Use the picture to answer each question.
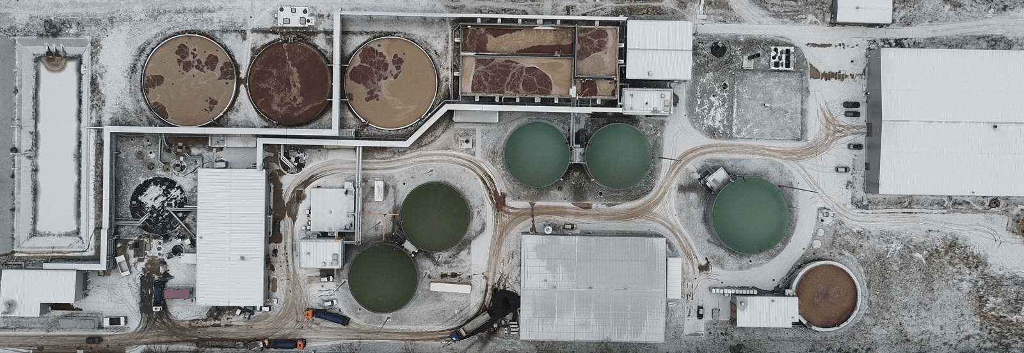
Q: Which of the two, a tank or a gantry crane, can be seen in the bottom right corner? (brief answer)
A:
tank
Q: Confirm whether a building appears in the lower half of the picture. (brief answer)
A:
Yes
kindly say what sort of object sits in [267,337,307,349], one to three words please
vehicle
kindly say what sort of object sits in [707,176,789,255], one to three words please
storage tank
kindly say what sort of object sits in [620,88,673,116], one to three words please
building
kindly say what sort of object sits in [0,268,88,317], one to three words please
building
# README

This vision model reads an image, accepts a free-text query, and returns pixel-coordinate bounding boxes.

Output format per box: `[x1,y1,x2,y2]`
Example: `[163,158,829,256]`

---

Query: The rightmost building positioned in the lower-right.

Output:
[731,294,799,328]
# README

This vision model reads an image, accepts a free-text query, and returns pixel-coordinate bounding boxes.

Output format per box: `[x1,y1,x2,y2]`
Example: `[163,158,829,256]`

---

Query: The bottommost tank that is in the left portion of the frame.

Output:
[347,239,422,314]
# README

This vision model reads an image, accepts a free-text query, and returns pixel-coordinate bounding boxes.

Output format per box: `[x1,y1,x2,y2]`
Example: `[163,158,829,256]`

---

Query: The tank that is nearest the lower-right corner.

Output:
[787,259,862,331]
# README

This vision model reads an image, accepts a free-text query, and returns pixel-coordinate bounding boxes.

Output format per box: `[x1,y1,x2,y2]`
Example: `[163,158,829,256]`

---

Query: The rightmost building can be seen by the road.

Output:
[867,49,1024,194]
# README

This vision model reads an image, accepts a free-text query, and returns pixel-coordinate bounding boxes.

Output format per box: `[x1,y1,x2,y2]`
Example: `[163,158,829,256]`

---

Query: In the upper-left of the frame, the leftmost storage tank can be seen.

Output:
[142,32,241,128]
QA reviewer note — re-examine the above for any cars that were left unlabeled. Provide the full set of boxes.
[561,222,577,230]
[211,306,225,321]
[847,143,863,150]
[260,306,271,312]
[321,275,335,283]
[232,306,244,318]
[842,100,860,109]
[323,299,337,307]
[86,336,103,345]
[844,110,860,118]
[242,307,253,322]
[711,307,719,320]
[696,305,704,320]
